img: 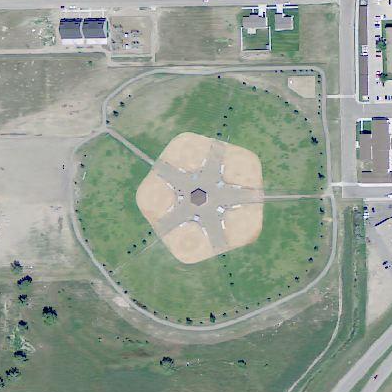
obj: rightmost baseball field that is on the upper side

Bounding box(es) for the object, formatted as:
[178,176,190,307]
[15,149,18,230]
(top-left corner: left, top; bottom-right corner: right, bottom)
[215,69,329,195]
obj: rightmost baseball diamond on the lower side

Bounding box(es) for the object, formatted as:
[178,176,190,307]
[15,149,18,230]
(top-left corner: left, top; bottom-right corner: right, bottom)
[216,198,334,319]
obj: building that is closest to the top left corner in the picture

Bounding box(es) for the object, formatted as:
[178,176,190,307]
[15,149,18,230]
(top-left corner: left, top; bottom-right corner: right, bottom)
[60,23,83,38]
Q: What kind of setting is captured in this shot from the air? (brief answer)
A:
sports ground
